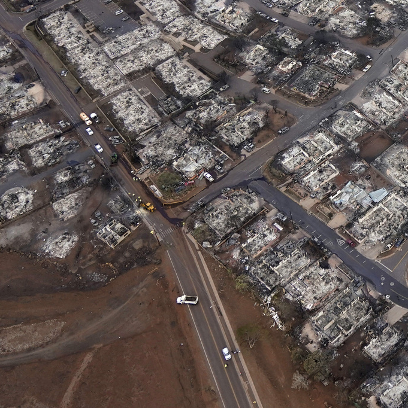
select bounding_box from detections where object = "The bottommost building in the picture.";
[138,126,189,165]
